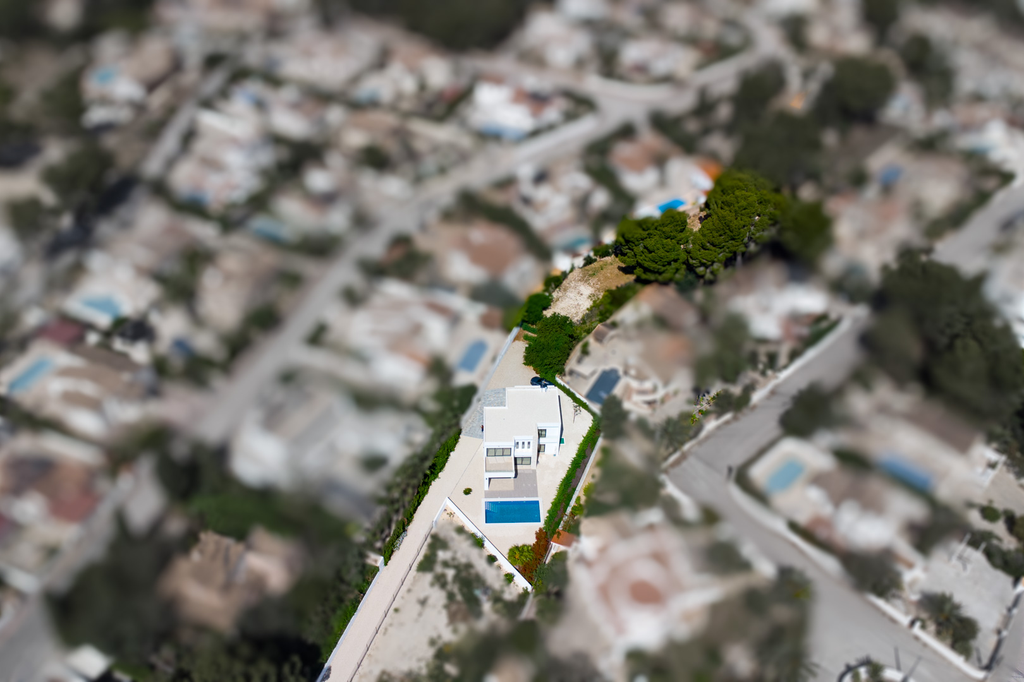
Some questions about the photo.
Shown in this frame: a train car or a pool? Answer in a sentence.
This aerial view contains a pool.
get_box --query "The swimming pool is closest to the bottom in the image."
[482,498,543,525]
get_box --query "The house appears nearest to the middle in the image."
[471,307,512,341]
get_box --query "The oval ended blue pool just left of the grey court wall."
[458,338,490,374]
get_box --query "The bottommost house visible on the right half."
[612,615,677,656]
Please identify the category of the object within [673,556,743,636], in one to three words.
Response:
house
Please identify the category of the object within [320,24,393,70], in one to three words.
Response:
house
